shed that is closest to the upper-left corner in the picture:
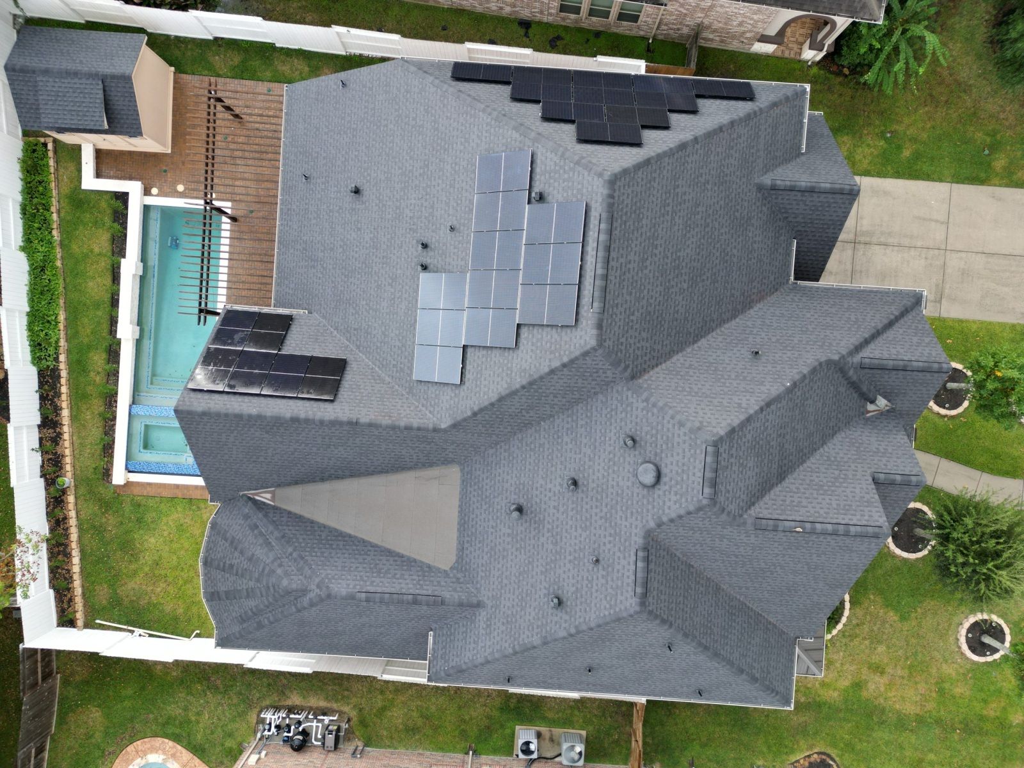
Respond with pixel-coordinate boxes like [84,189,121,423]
[5,25,176,152]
